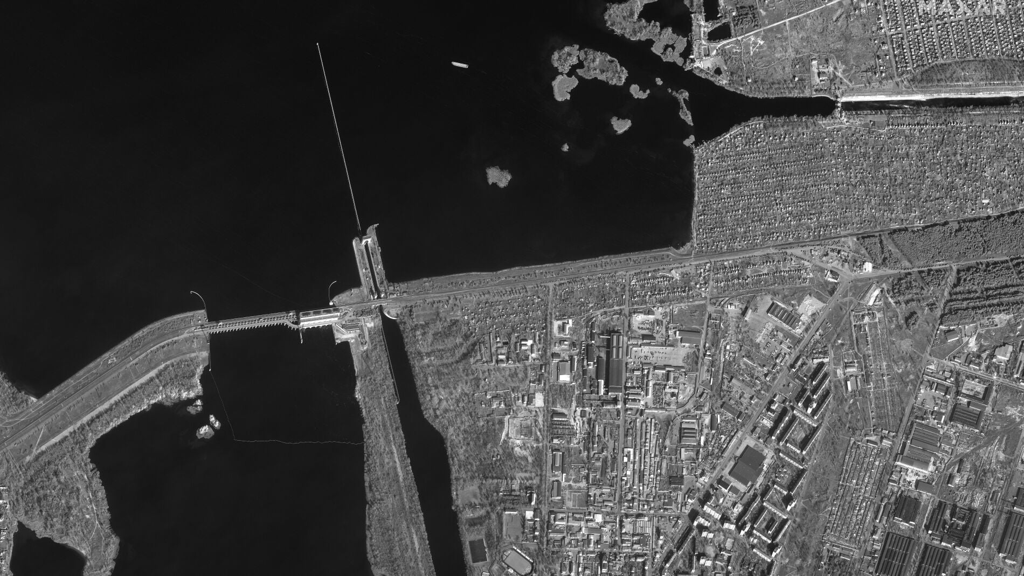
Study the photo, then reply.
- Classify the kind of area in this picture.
port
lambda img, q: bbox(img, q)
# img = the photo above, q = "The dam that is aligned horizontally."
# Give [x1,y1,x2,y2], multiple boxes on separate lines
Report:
[204,311,303,335]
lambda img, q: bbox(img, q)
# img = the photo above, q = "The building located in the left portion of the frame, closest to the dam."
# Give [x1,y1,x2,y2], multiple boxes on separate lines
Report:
[301,307,340,328]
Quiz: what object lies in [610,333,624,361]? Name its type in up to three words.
building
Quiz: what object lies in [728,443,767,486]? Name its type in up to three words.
building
